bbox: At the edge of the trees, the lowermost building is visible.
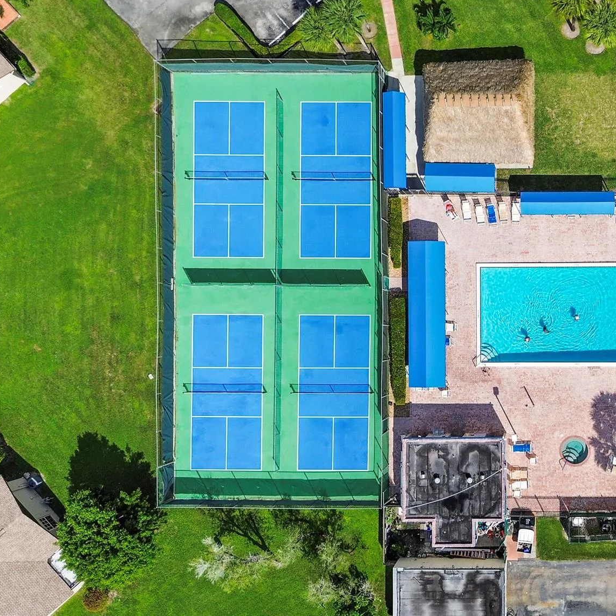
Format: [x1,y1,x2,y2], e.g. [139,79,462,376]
[394,559,507,616]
